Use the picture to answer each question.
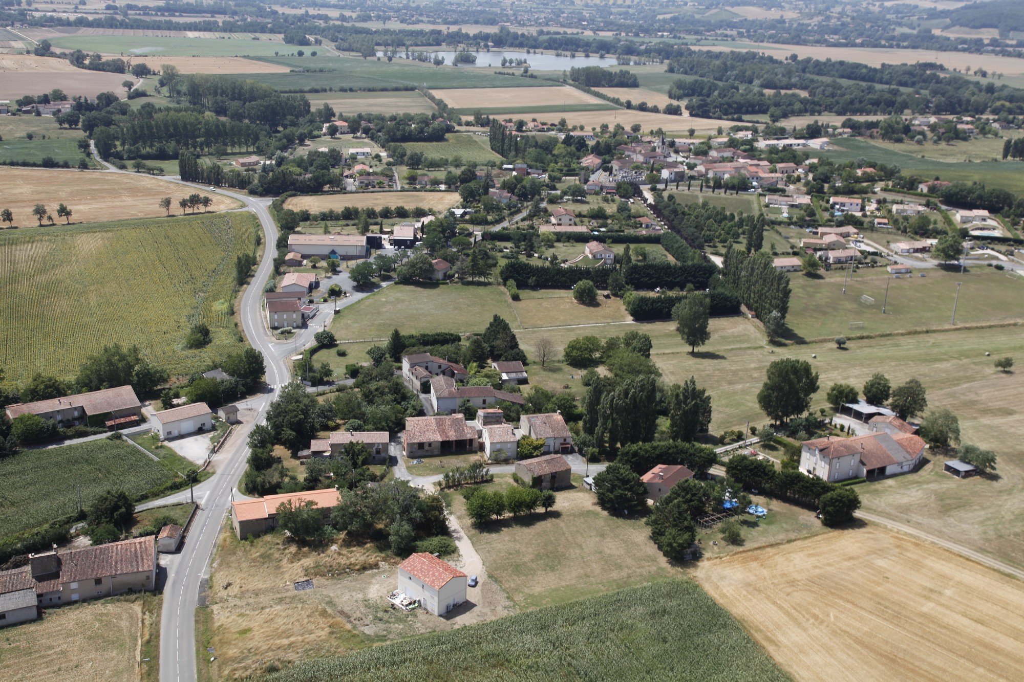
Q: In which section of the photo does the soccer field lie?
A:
right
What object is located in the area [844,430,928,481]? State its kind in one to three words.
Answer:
barn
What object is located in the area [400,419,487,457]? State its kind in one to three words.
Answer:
barn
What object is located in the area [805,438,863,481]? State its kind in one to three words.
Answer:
house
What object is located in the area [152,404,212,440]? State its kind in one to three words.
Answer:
building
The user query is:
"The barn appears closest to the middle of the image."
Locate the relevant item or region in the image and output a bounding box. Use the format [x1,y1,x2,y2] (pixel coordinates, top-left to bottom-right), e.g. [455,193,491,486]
[497,361,532,388]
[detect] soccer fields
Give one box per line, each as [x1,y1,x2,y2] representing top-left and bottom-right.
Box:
[785,270,1024,343]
